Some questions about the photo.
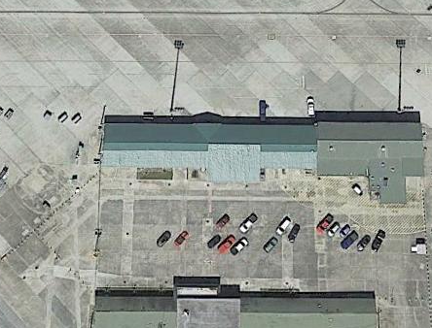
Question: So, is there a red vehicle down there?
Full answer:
Yes, you can see a red vehicle in this photo.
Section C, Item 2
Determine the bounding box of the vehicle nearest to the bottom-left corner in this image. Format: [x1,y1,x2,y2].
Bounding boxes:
[156,231,173,247]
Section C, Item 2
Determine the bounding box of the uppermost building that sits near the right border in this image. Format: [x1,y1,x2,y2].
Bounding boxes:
[315,122,424,203]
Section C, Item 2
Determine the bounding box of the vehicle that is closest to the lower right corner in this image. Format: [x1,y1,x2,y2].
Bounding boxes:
[411,243,427,255]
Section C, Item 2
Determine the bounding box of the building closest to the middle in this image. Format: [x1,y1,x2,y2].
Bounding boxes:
[101,123,318,183]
